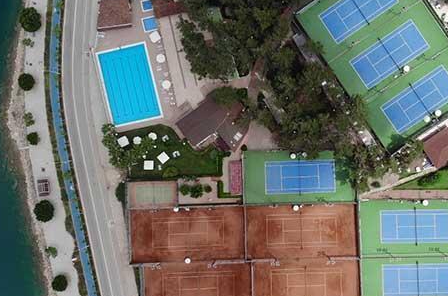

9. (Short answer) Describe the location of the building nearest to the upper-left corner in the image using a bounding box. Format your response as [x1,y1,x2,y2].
[97,0,135,29]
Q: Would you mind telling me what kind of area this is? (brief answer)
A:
sports ground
